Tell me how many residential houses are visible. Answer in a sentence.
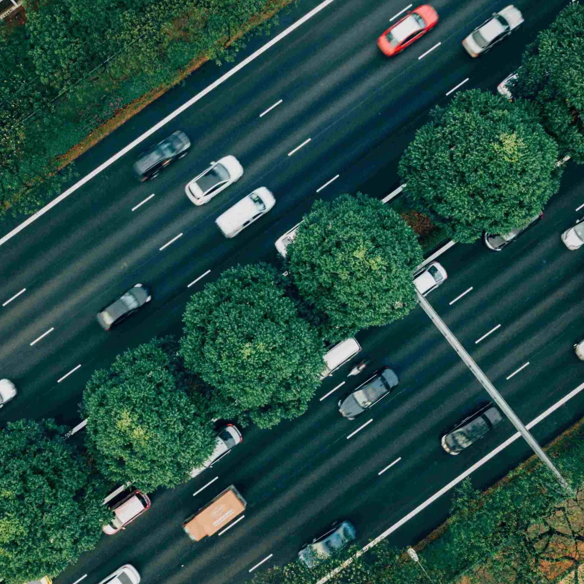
Not a single residential house can be seen.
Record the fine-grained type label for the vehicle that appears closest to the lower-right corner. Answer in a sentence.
It looks like the vehicle that appears closest to the lower-right corner is a car.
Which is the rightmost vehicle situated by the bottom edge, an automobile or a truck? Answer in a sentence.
The rightmost vehicle situated by the bottom edge appears to be an automobile.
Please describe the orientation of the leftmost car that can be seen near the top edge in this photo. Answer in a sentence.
Seen from above, the leftmost car that can be seen near the top edge lies on a diagonal.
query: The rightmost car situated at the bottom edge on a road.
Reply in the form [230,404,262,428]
[296,516,358,569]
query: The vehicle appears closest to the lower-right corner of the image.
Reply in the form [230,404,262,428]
[440,401,503,456]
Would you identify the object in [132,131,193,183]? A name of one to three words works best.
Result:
car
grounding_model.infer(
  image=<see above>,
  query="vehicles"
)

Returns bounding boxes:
[104,485,156,535]
[186,425,246,477]
[570,334,584,362]
[185,485,245,542]
[557,216,584,252]
[306,337,364,389]
[296,516,358,569]
[95,561,140,584]
[132,131,193,183]
[0,377,20,408]
[95,282,155,332]
[16,569,54,584]
[276,208,312,254]
[338,366,400,419]
[396,260,449,311]
[185,156,244,206]
[440,401,503,456]
[214,188,276,239]
[461,7,522,59]
[377,6,439,59]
